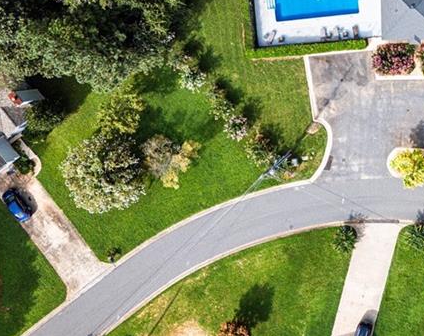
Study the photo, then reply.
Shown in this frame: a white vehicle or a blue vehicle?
blue vehicle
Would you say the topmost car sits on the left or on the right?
left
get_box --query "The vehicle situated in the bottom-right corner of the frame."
[355,322,372,336]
